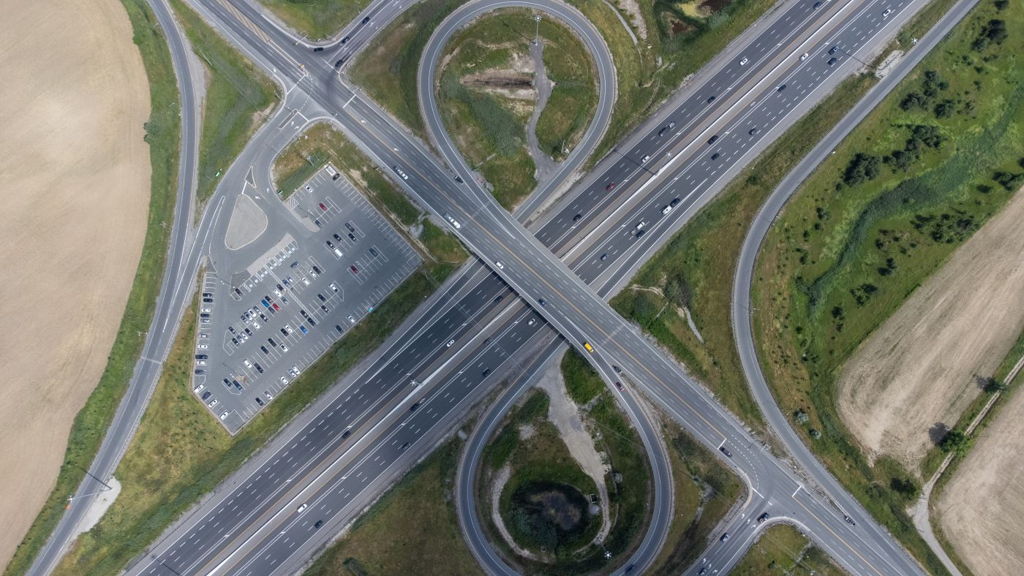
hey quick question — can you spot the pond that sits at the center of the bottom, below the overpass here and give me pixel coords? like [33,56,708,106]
[519,483,585,534]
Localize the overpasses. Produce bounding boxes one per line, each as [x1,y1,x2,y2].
[452,204,627,357]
